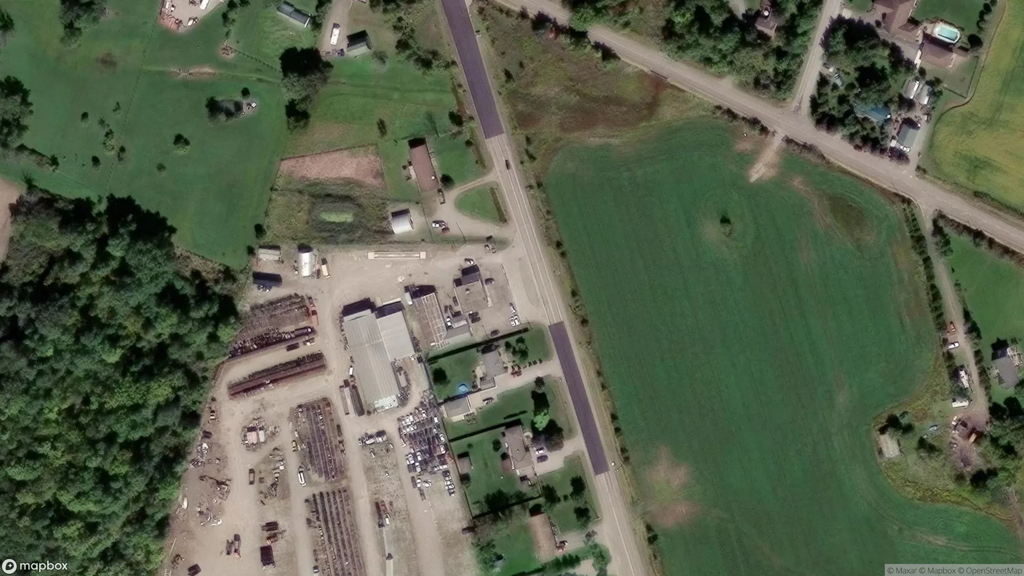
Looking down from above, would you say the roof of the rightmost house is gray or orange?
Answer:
gray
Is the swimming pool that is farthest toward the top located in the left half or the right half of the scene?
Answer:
right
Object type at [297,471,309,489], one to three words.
vehicle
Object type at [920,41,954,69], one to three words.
building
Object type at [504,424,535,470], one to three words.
house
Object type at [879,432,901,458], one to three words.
shed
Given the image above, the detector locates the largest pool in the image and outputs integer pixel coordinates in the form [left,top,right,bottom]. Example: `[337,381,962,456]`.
[934,24,960,44]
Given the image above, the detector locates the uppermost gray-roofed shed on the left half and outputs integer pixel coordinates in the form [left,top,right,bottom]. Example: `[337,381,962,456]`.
[277,1,312,27]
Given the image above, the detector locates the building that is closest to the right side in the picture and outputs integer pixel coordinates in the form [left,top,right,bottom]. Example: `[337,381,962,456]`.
[992,355,1020,389]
